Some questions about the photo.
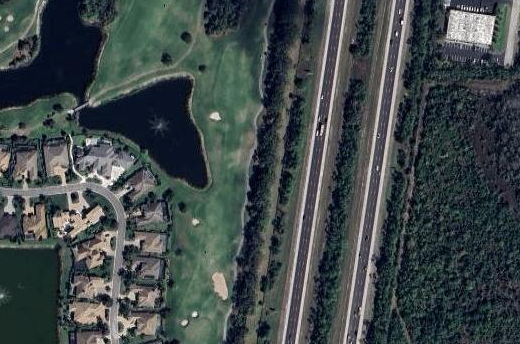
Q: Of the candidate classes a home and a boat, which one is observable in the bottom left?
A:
home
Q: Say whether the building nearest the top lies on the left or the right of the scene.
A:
right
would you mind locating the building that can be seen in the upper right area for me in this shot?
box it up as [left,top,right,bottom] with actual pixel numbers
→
[447,10,497,45]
